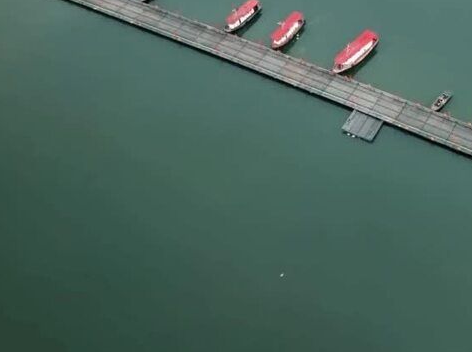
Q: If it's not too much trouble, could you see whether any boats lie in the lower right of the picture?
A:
No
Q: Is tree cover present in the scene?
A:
No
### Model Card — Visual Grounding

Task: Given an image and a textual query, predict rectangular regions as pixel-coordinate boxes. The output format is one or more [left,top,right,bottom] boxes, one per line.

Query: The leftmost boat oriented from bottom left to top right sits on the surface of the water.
[226,0,265,36]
